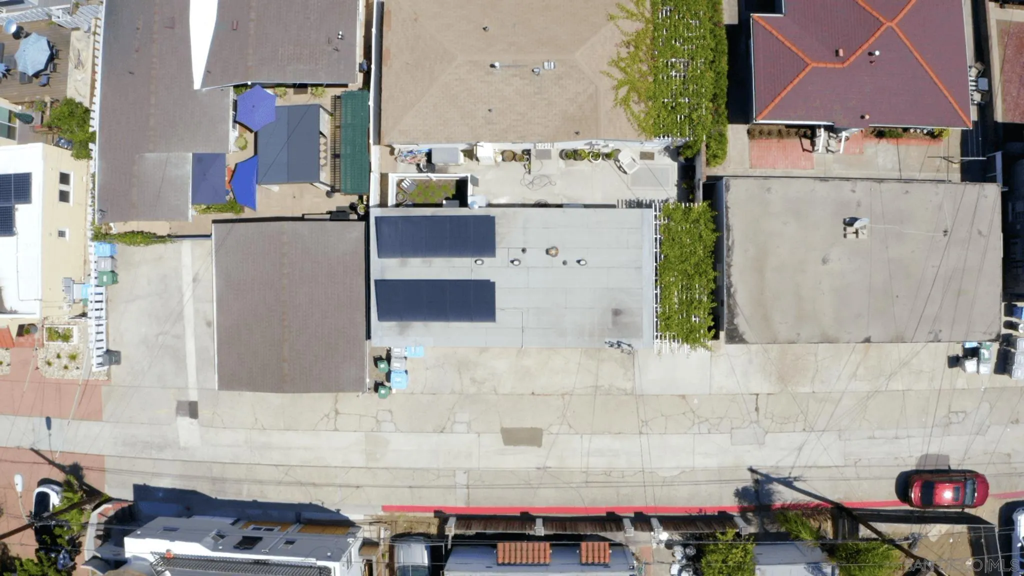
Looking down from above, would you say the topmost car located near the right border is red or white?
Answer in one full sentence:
The color of the topmost car located near the right border is red.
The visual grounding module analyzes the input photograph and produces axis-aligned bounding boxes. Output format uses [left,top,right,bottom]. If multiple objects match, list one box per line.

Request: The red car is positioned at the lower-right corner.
[903,470,989,514]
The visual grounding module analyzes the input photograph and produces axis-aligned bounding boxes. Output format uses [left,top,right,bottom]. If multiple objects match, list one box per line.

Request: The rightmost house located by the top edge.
[743,0,974,130]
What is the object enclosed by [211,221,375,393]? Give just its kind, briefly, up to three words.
building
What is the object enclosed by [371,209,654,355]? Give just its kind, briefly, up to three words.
building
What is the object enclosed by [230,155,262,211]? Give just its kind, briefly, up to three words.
umbrella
